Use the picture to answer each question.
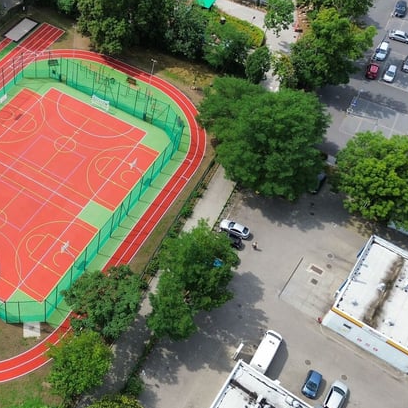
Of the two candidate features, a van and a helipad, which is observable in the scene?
van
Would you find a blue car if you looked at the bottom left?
No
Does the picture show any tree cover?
Yes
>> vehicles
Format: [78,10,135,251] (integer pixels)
[248,330,281,373]
[395,0,407,14]
[325,380,349,408]
[376,43,390,58]
[383,64,398,81]
[301,368,324,400]
[401,55,408,71]
[219,221,251,241]
[389,32,408,45]
[218,232,246,251]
